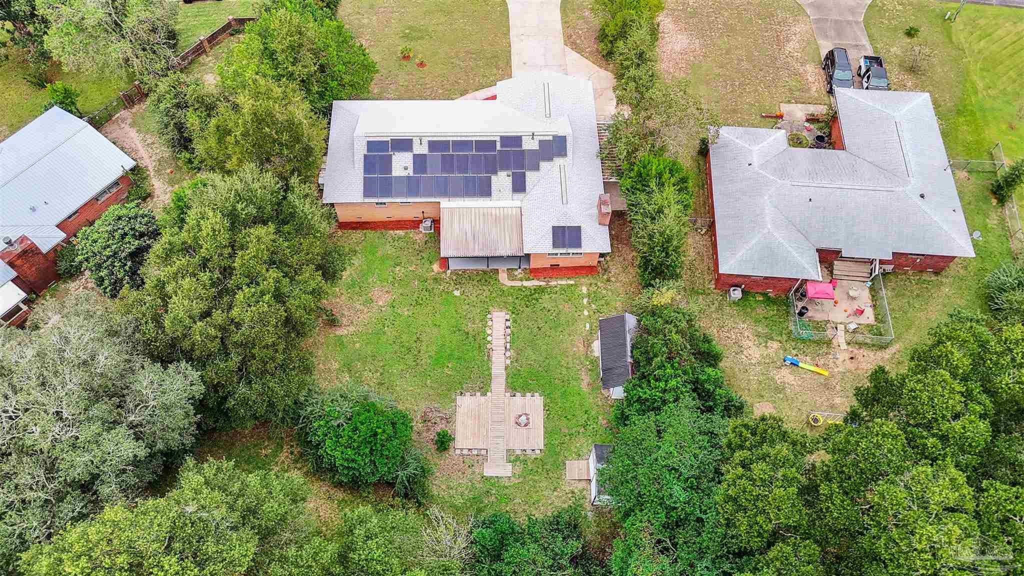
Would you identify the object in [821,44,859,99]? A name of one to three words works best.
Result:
car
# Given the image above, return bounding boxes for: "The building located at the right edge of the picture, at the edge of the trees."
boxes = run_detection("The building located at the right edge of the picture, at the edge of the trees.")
[705,88,976,294]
